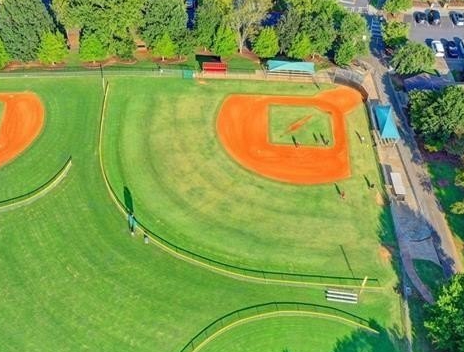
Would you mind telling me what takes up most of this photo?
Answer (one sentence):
The largest share of the image is taken up by grass.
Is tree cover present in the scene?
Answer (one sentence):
Yes, the picture does contain tree cover.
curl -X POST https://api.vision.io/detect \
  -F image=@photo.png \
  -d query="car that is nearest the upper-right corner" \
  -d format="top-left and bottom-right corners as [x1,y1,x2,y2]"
[448,9,464,28]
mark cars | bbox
[424,9,441,27]
[412,12,427,27]
[444,42,460,59]
[448,9,464,28]
[458,41,464,57]
[430,41,445,58]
